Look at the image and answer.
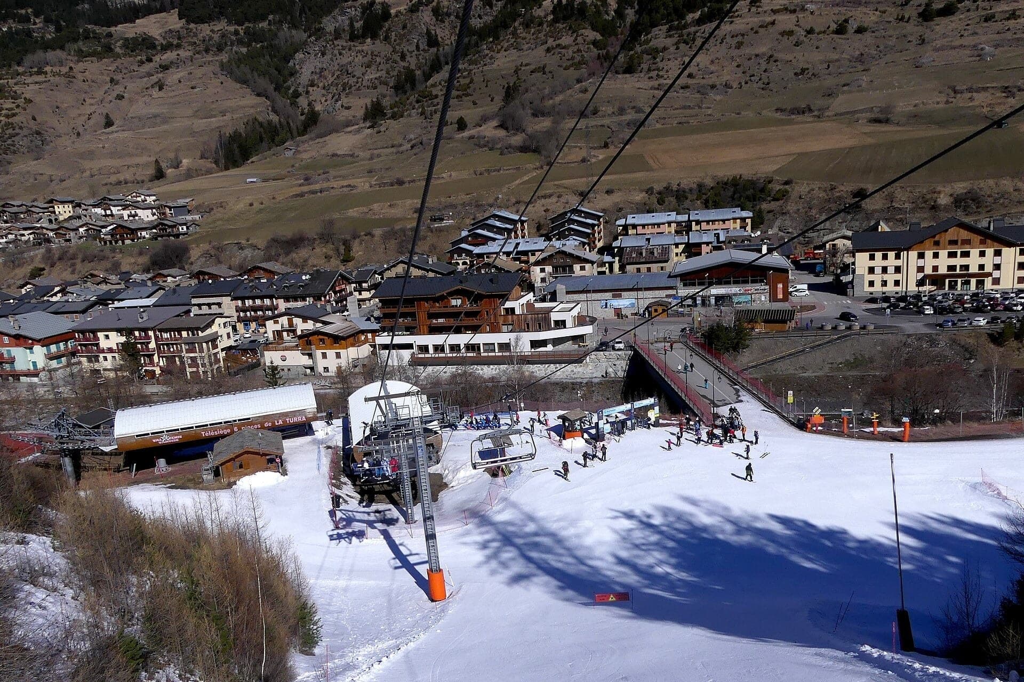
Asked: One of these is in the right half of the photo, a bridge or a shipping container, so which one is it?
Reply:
bridge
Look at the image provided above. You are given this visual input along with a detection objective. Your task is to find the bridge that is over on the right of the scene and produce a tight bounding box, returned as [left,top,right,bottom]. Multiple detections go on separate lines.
[636,334,799,421]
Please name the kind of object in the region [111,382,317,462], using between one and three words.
building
